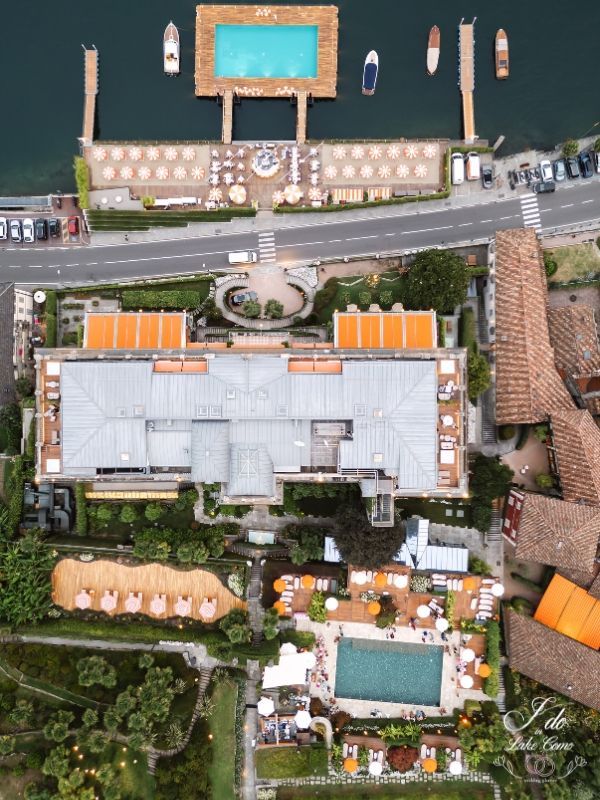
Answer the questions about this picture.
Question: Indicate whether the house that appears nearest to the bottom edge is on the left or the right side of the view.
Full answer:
You can find the house that appears nearest to the bottom edge on the right side of the picture.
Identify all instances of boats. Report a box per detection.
[495,28,509,81]
[163,20,179,77]
[427,24,440,77]
[362,49,378,98]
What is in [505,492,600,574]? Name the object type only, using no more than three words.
house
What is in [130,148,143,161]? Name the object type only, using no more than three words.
umbrella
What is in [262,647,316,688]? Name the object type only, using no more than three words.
tent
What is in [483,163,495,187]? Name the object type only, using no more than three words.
vehicle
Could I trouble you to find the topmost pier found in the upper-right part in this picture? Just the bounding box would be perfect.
[459,14,477,145]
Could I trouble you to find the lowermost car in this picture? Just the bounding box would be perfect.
[230,290,257,305]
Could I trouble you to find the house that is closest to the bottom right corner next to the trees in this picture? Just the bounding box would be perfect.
[501,603,600,712]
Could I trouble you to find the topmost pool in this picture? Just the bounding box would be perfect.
[195,5,337,102]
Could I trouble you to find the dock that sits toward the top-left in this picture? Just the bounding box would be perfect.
[80,42,99,145]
